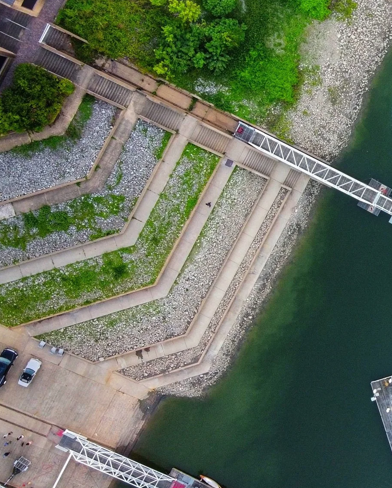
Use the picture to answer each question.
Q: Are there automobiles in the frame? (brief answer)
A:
Yes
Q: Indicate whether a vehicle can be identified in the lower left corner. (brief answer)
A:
Yes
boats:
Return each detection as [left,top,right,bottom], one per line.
[200,475,222,488]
